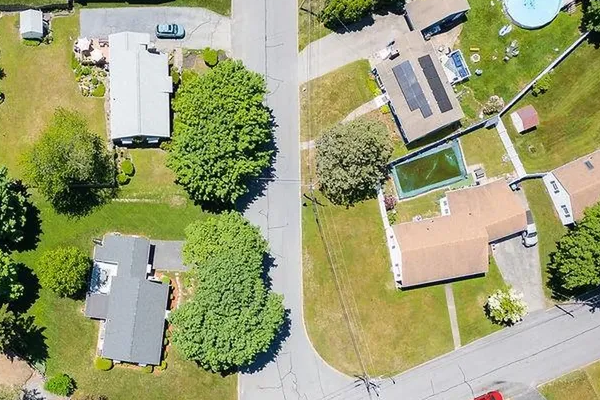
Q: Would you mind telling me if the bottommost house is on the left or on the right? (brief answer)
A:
left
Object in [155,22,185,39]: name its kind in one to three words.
car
